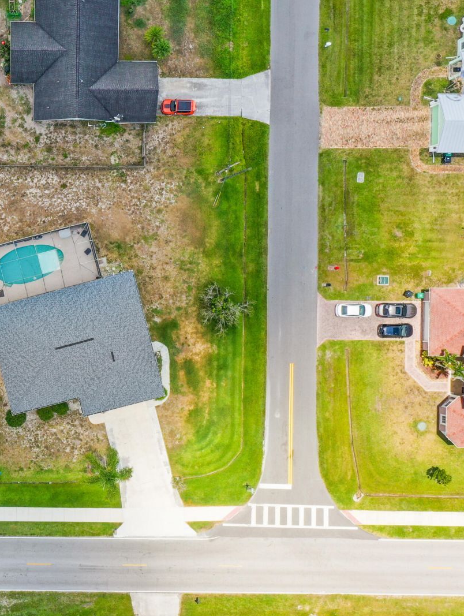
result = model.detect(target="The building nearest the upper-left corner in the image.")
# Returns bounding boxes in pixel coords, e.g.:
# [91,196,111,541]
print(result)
[11,0,160,123]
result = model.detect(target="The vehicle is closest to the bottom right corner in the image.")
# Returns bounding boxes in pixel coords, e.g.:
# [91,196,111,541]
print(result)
[375,323,412,340]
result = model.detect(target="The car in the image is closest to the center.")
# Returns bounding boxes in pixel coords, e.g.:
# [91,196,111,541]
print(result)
[333,302,371,319]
